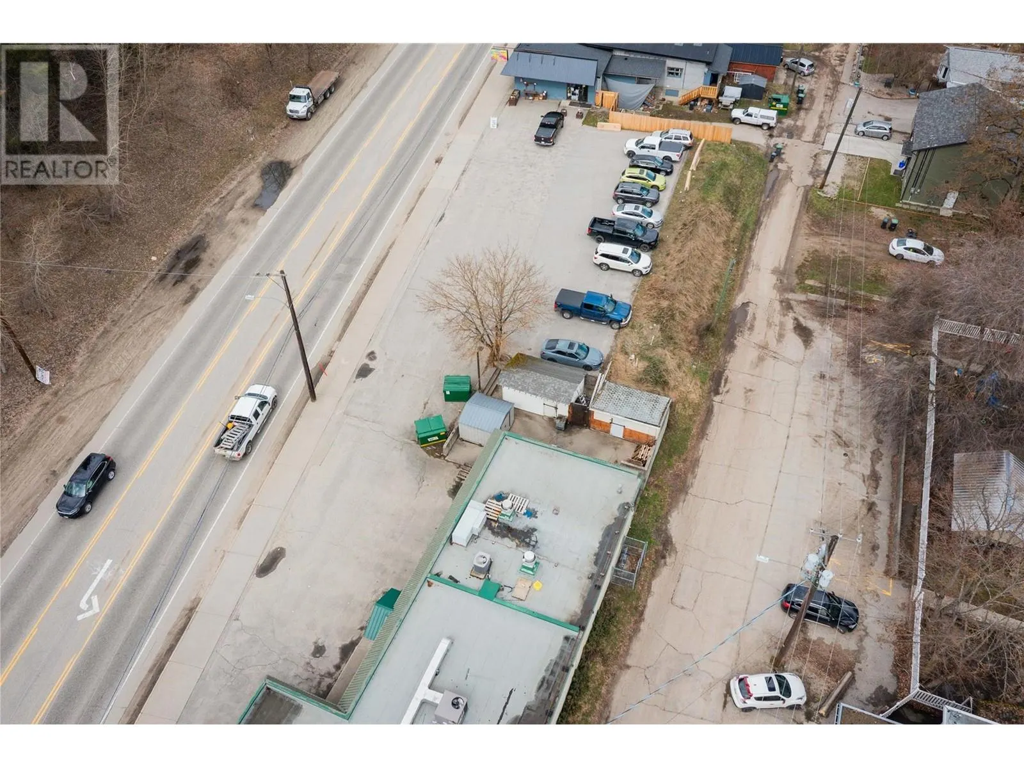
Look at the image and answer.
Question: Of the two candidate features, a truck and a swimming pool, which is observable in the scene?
truck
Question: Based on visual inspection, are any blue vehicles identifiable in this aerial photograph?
Yes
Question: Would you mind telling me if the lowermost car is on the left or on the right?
right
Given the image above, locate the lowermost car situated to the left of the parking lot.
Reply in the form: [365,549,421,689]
[57,452,124,520]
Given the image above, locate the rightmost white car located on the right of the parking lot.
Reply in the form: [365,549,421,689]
[888,240,943,268]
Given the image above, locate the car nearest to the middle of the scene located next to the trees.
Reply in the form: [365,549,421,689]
[541,341,603,372]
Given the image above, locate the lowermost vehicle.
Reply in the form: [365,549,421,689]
[727,670,808,715]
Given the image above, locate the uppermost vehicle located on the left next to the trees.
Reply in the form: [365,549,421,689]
[288,71,344,118]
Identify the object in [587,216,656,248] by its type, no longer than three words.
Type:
truck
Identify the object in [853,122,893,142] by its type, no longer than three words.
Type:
car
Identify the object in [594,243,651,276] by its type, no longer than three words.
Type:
car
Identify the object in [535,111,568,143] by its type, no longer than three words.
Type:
truck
